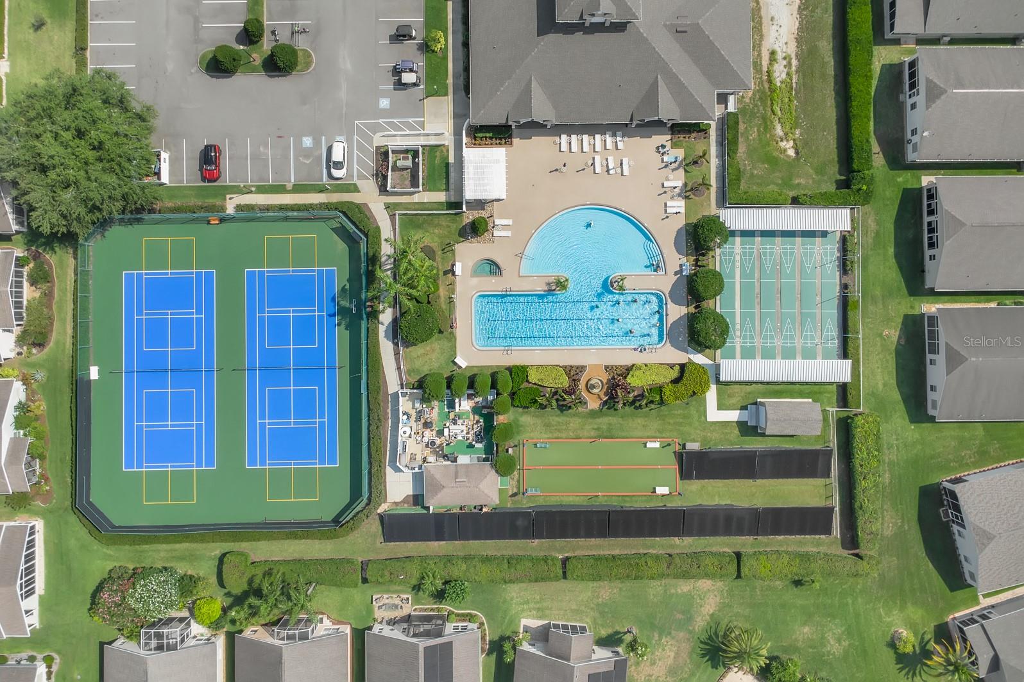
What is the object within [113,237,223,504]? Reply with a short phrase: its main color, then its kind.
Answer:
blue tennis court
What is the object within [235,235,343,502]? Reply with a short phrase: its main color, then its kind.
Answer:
blue tennis court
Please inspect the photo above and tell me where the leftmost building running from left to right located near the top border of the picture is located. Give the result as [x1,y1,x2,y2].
[469,0,753,127]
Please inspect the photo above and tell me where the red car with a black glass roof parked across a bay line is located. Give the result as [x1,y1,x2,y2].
[202,144,223,182]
